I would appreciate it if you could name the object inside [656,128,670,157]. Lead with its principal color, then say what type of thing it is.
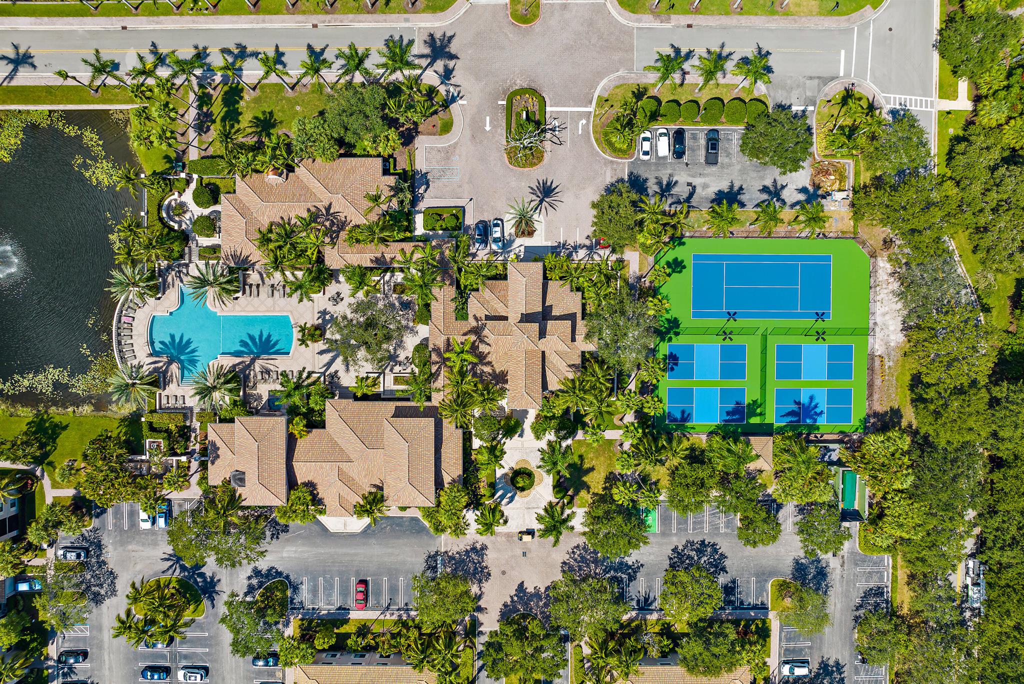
white car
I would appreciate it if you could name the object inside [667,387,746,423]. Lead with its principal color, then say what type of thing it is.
blue sports court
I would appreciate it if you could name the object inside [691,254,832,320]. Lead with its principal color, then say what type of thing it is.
blue tennis court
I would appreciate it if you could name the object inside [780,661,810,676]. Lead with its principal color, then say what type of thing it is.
white car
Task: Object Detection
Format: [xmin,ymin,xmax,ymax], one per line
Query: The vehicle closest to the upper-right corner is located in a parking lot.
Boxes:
[704,130,719,165]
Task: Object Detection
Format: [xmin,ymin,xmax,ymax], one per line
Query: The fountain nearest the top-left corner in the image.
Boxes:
[0,224,33,286]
